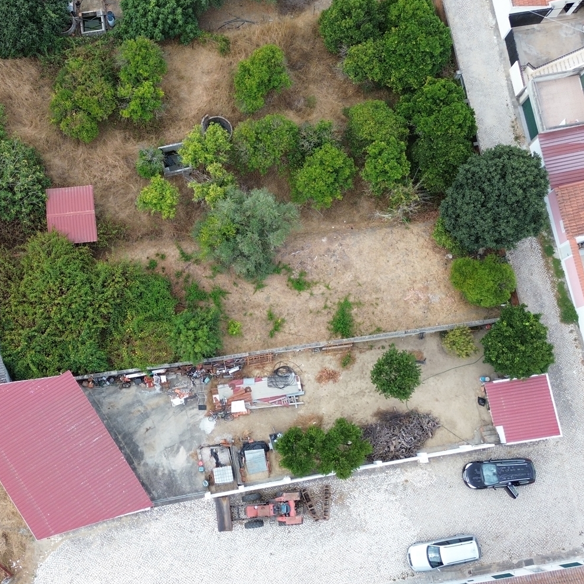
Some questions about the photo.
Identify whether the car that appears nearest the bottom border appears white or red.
white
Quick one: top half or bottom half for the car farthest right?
bottom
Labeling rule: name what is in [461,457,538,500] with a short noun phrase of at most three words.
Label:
car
